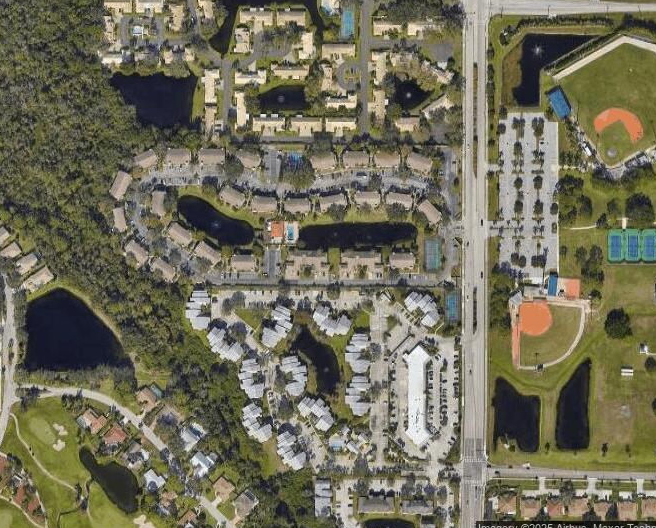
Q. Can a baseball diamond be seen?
Yes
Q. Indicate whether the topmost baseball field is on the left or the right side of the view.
right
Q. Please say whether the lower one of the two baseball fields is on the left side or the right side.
right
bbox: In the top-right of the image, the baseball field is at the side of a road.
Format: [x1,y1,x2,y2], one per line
[553,35,656,168]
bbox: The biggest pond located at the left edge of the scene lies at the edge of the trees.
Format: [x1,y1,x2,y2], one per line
[24,287,132,371]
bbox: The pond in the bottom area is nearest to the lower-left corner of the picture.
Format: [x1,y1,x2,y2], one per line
[79,445,141,512]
